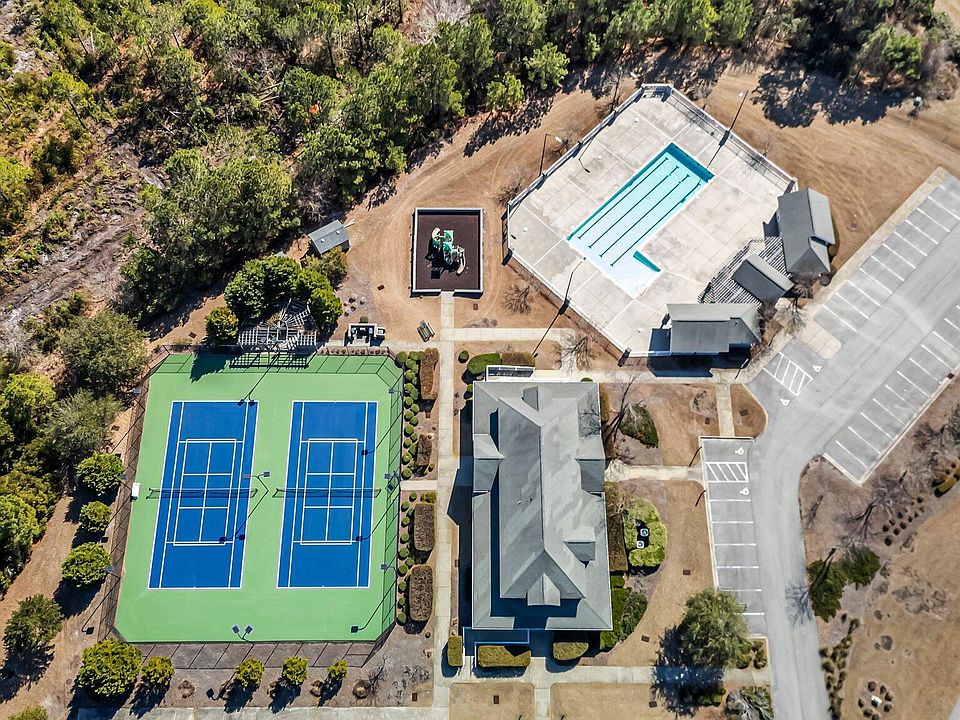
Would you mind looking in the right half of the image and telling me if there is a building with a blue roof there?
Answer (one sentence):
No, no building with a blue roof is visible in the right half of the image.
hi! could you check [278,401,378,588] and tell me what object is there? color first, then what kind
blue tennis court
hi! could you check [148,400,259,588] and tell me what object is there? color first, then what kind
blue tennis court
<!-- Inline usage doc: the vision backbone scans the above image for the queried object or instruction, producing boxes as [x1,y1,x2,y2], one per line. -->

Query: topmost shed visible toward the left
[308,219,349,259]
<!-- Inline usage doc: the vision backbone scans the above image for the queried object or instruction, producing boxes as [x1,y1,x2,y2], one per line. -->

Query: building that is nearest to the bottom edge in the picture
[472,382,613,630]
